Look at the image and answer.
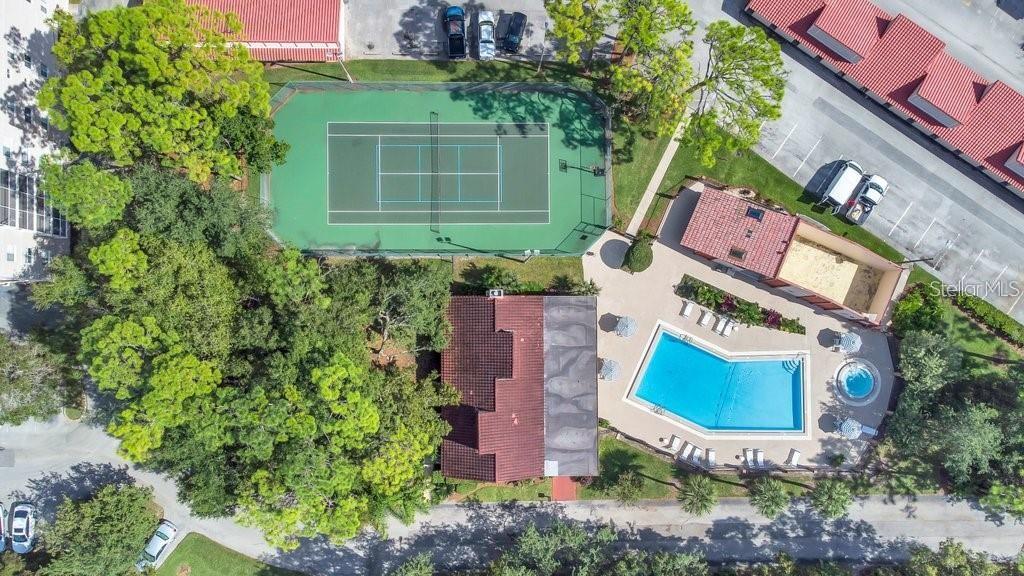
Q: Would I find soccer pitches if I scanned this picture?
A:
No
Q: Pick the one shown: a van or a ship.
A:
van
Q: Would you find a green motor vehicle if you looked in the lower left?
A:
No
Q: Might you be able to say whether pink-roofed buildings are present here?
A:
Yes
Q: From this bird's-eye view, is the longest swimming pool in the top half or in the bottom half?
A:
bottom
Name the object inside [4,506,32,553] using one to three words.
car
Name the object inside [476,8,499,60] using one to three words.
truck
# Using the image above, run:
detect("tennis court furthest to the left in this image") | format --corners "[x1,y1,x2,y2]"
[271,92,605,253]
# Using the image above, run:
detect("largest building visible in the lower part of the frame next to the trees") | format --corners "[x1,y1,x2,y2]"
[441,288,599,484]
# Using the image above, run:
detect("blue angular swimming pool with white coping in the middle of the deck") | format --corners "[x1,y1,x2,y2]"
[624,320,812,439]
